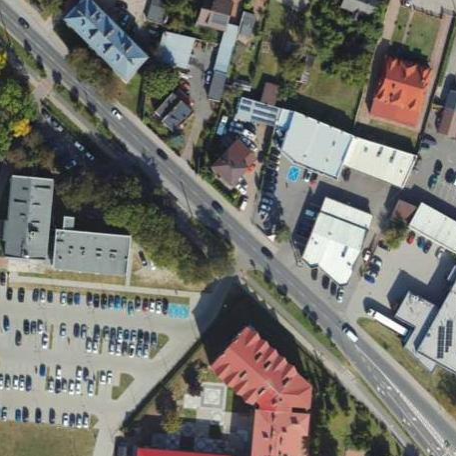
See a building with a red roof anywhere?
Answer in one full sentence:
Yes, the frame does contain a building with a red roof.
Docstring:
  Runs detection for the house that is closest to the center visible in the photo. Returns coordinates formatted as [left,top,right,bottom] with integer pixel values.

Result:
[213,139,255,188]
